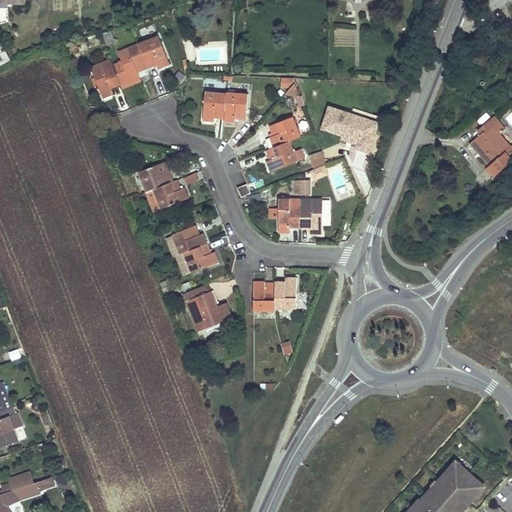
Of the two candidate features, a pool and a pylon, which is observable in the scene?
pool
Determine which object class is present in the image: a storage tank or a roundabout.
roundabout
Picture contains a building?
Yes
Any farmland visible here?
Yes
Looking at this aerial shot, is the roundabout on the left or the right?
right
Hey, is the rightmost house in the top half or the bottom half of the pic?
top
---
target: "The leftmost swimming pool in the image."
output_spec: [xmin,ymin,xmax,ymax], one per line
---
[195,41,228,65]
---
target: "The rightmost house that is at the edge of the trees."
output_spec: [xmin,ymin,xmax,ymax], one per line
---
[470,110,512,176]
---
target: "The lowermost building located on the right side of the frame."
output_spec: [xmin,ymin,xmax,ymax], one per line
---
[411,461,486,512]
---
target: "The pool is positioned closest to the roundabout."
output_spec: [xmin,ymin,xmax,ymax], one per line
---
[326,162,356,202]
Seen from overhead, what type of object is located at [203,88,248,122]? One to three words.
house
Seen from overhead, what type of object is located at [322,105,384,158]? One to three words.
house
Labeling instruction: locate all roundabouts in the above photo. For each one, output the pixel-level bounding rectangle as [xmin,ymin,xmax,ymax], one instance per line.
[340,278,450,390]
